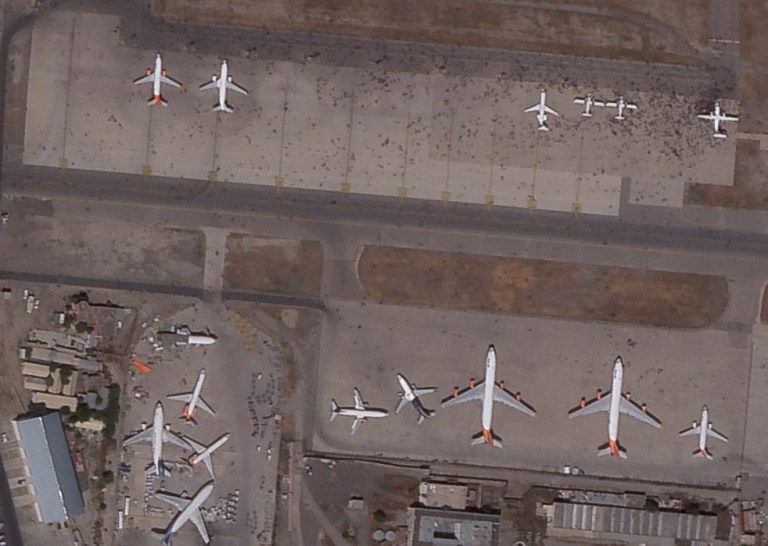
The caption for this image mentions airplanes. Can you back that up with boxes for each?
[334,389,389,436]
[200,60,247,112]
[157,328,217,344]
[698,103,737,136]
[524,89,559,130]
[185,433,230,478]
[167,370,217,430]
[399,374,438,424]
[442,346,537,448]
[574,94,604,116]
[134,54,182,105]
[680,406,728,458]
[158,484,214,546]
[606,98,636,119]
[124,401,194,475]
[569,356,664,457]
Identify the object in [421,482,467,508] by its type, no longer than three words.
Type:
building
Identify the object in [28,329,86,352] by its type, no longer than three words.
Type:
building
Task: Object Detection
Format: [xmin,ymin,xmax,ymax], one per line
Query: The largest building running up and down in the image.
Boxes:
[14,411,85,523]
